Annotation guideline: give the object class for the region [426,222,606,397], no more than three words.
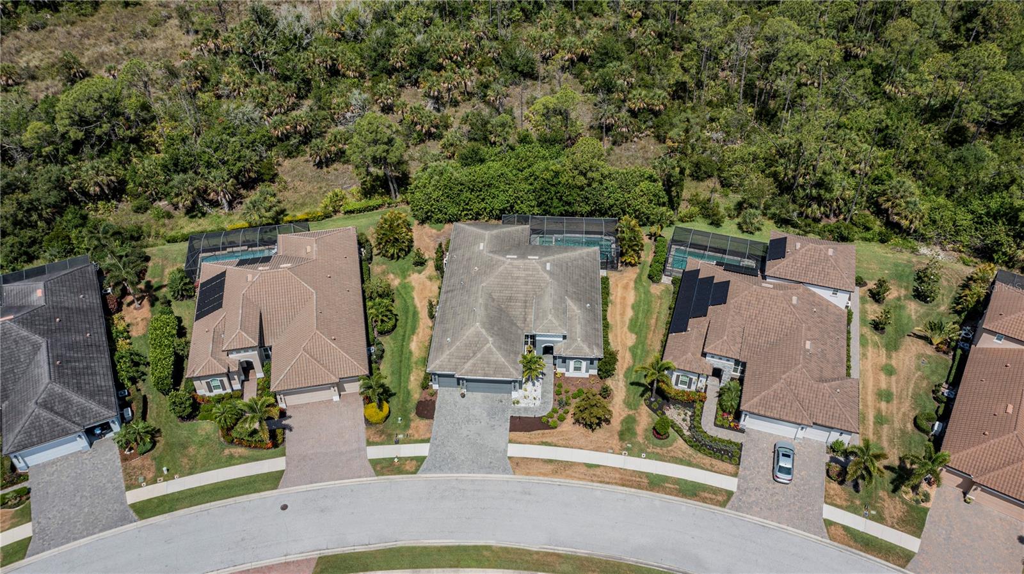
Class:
house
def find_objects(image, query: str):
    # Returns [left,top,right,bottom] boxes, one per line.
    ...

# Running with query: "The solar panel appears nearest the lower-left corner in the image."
[194,269,227,321]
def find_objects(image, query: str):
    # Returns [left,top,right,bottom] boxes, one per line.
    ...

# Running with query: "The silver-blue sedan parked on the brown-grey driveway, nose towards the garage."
[772,440,798,485]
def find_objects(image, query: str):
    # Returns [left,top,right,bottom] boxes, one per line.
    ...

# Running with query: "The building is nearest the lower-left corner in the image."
[0,264,121,469]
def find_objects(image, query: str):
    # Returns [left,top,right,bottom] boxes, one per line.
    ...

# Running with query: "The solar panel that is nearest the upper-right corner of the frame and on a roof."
[767,237,786,261]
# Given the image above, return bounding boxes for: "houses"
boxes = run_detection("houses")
[0,264,121,469]
[936,281,1024,522]
[426,222,606,397]
[186,224,370,407]
[663,229,860,447]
